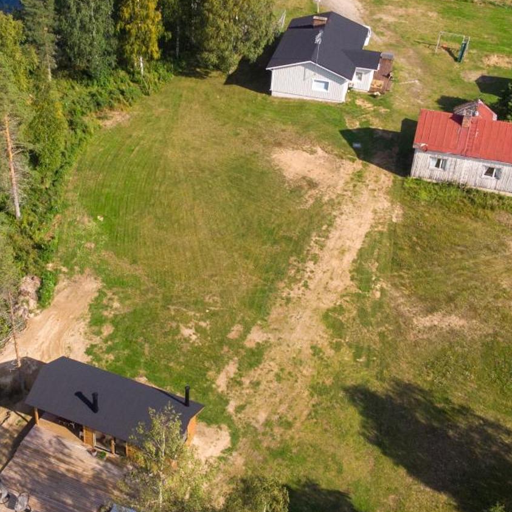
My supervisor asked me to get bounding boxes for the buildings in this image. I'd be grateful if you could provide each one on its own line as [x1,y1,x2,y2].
[24,356,208,480]
[411,97,512,194]
[266,11,383,103]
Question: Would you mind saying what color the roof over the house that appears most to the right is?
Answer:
red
